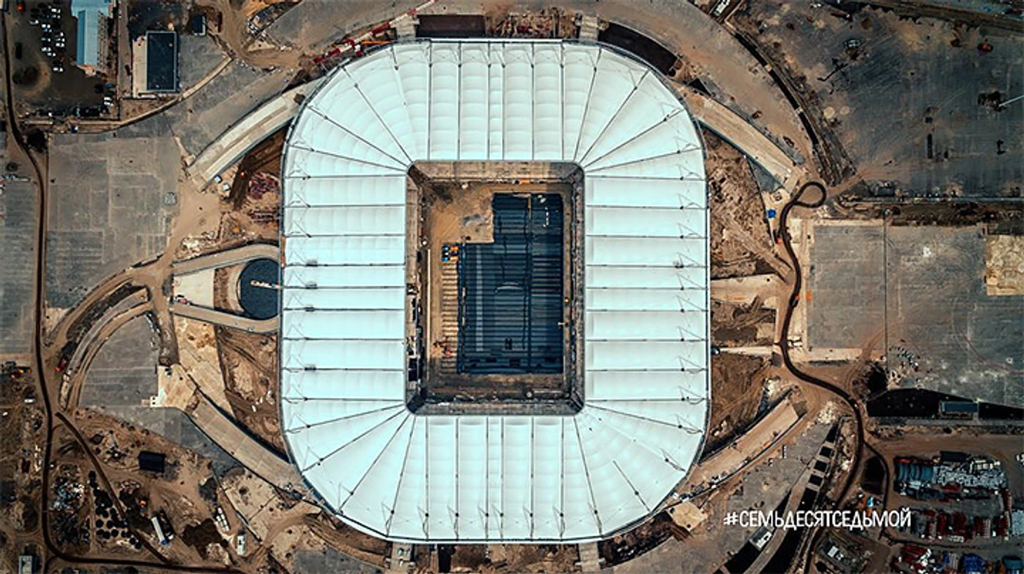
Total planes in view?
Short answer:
none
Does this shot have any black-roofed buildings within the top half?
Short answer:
Yes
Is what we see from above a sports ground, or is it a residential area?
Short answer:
sports ground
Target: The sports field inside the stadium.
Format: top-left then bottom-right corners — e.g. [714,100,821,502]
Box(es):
[458,193,564,374]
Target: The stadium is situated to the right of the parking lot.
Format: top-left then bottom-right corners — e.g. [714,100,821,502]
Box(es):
[280,39,710,545]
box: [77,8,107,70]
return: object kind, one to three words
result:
building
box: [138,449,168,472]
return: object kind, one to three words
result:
shed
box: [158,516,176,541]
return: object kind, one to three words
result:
vehicle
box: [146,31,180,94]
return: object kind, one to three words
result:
building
